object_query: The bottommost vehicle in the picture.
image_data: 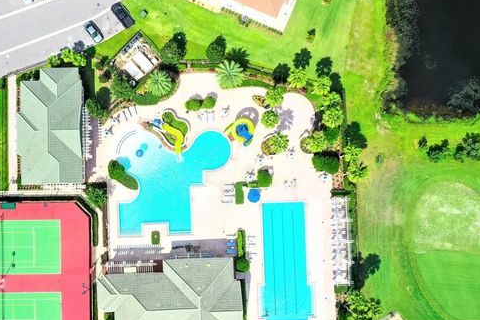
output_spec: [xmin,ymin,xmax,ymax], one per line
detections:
[84,20,104,44]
